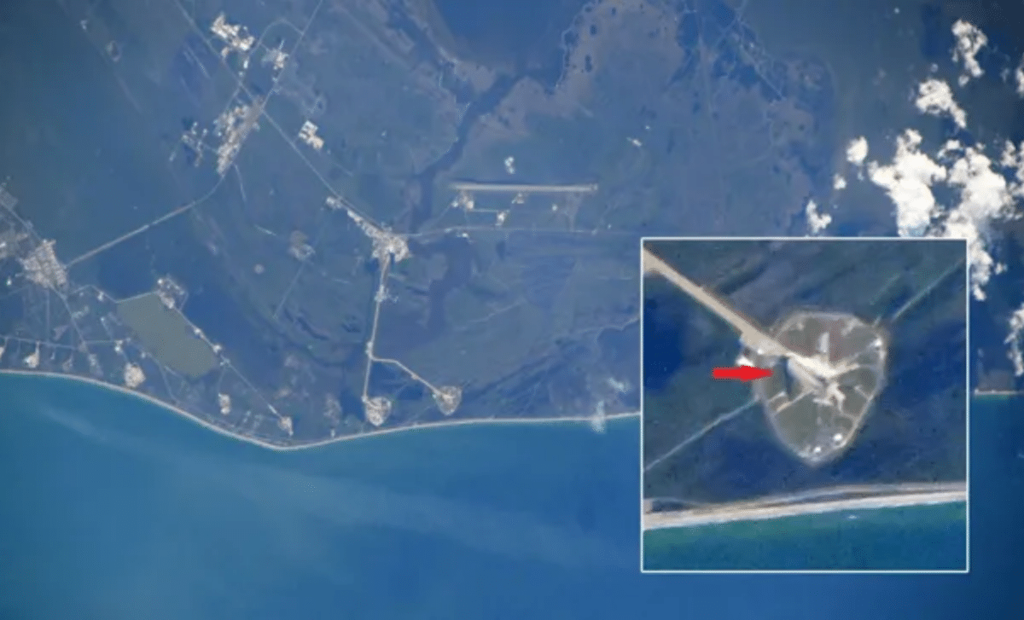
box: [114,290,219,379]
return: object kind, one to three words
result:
pond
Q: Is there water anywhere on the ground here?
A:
Yes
